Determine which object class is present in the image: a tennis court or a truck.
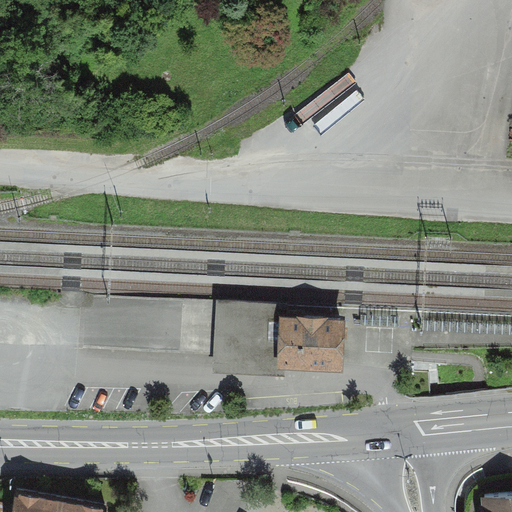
truck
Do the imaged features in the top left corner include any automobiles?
No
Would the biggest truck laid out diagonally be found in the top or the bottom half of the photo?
top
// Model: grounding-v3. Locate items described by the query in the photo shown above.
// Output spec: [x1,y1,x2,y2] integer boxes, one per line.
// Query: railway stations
[278,314,348,374]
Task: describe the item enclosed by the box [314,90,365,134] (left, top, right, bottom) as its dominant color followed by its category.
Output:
white trailer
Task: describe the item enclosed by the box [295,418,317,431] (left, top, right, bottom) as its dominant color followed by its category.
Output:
white vehicle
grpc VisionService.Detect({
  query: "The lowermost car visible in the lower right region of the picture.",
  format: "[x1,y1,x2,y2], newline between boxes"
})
[366,440,392,452]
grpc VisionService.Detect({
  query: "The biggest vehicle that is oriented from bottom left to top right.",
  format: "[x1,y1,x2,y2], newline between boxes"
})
[284,72,358,136]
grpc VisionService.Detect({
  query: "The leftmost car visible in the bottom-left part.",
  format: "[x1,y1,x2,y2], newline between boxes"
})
[68,382,86,409]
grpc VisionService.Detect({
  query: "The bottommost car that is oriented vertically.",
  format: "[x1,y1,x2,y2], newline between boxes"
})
[200,480,214,506]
